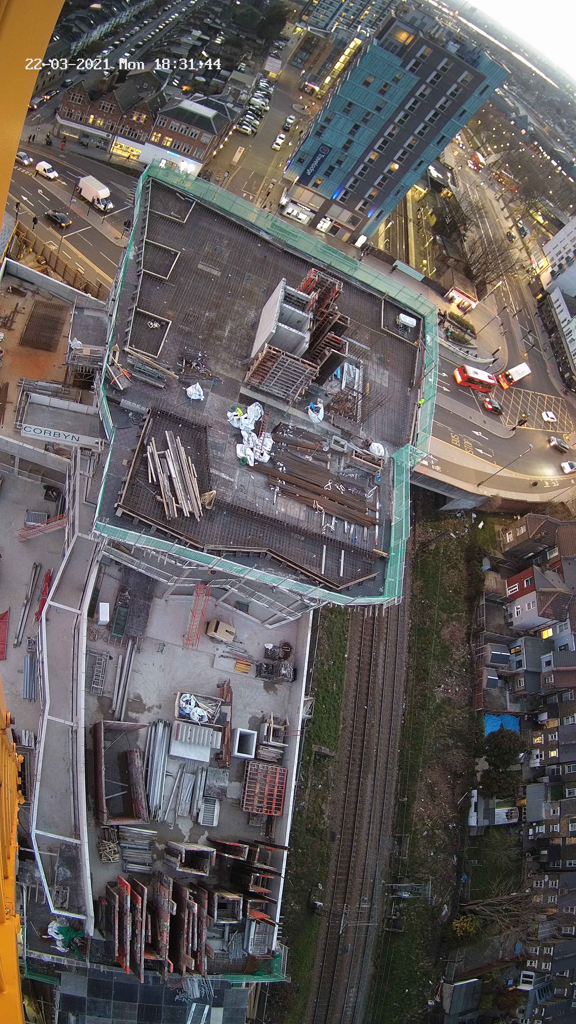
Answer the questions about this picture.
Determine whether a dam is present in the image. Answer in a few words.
No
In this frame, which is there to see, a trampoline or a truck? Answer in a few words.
truck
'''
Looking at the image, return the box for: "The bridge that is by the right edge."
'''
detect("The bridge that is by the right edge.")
[414,469,576,514]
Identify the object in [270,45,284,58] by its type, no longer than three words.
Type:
vehicle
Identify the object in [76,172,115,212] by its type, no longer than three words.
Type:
truck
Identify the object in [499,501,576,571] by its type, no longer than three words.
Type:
house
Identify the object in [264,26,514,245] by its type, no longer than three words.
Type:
building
